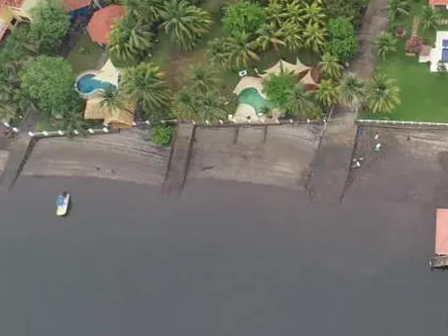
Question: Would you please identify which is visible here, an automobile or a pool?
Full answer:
Visible in the photo is a pool.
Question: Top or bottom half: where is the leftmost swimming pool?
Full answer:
The leftmost swimming pool sits in the top half of the picture.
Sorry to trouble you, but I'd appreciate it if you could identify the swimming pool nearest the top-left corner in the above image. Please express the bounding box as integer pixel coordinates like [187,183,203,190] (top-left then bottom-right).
[74,71,119,97]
